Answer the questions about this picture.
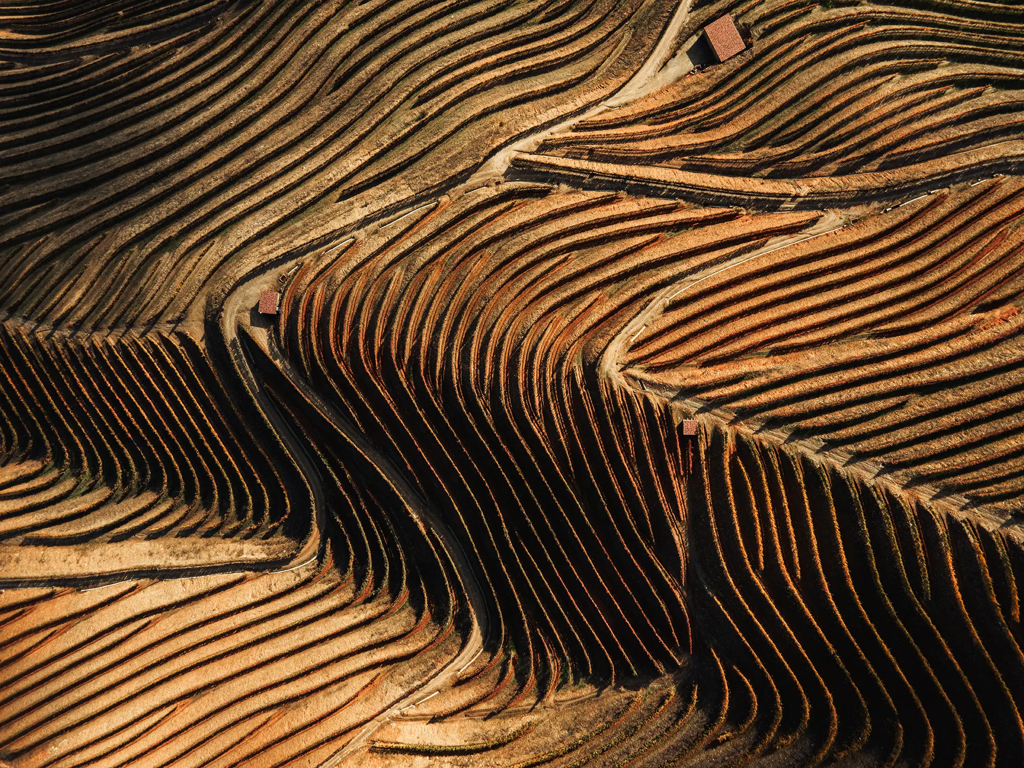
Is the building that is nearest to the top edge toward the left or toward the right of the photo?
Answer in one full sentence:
The building that is nearest to the top edge sits on the right side.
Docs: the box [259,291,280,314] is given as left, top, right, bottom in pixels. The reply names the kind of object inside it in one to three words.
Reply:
shed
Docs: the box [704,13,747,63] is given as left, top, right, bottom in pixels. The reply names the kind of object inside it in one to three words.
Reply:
building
